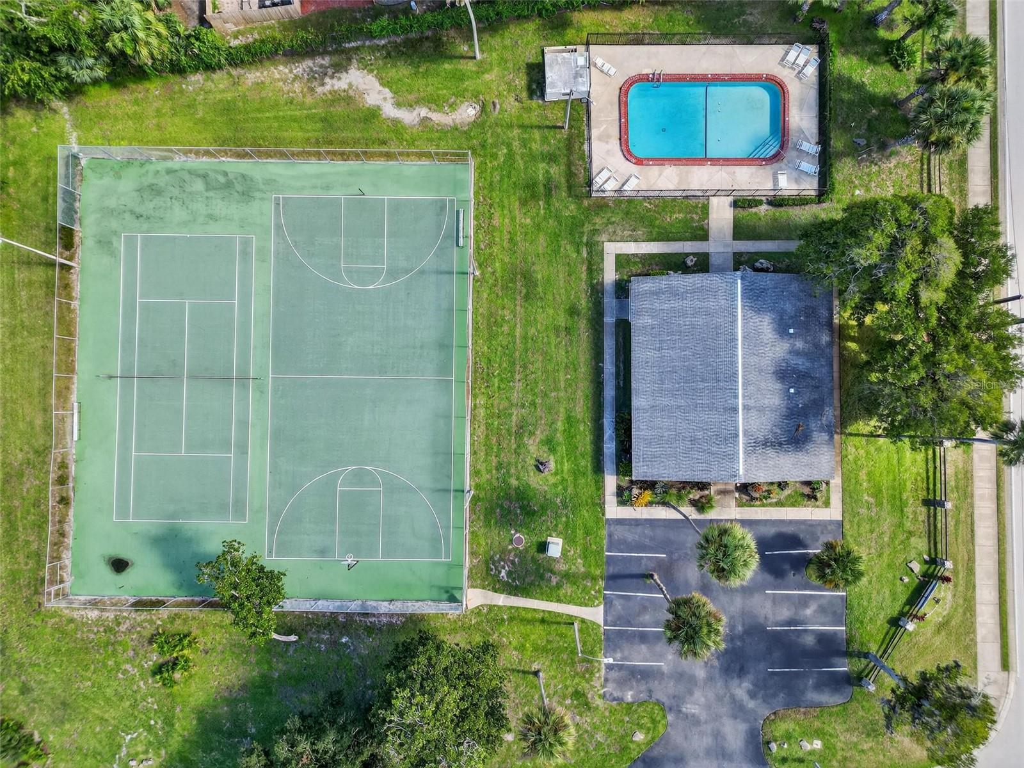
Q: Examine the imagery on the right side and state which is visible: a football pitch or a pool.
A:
pool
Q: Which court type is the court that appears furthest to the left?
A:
tennis court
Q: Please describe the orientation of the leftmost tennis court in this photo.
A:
vertically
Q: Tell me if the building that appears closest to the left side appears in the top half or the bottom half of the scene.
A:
top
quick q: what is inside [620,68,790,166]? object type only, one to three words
swimming pool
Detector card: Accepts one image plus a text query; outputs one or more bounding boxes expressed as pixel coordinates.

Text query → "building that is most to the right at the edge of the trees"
[629,272,834,484]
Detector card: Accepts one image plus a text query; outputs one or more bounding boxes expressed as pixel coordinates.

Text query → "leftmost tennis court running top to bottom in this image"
[114,234,254,523]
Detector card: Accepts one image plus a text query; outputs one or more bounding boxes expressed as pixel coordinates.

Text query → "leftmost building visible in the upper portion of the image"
[543,45,589,100]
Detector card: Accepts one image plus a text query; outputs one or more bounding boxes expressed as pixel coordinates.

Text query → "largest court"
[266,196,456,561]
